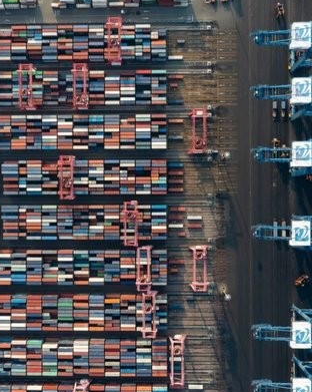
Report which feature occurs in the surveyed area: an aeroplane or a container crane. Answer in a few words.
container crane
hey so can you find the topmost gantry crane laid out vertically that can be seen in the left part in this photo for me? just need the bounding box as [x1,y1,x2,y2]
[102,15,128,68]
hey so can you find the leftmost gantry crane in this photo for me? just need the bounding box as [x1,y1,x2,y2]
[20,61,46,112]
